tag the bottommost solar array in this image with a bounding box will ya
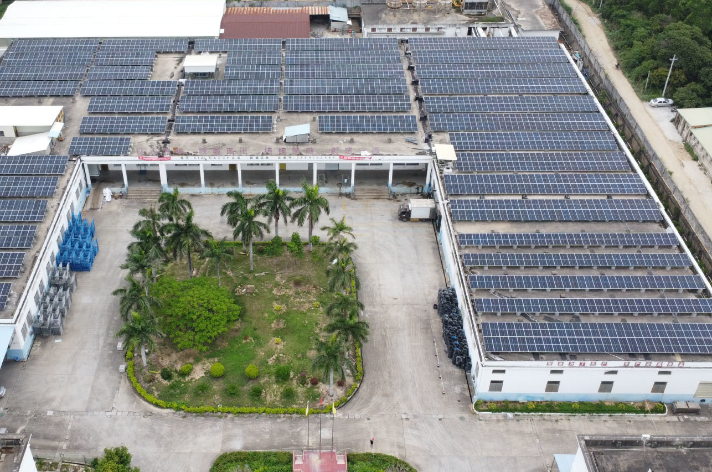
[482,323,712,355]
